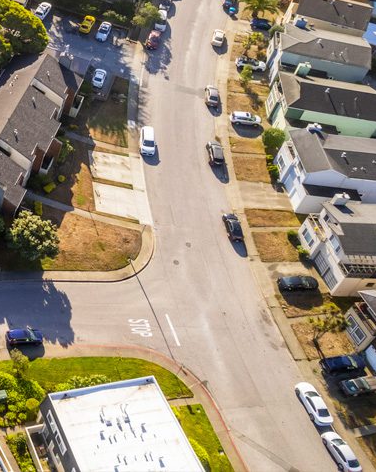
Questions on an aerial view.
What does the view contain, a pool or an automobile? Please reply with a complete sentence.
Of the two, only an automobile appears.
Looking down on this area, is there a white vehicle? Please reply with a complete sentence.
Yes, you can see a white vehicle in this photo.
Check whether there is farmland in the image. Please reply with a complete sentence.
No, the picture contains no farmland.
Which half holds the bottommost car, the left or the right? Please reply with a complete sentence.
The bottommost car is on the right side of the image.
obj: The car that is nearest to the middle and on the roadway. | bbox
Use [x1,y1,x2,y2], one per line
[221,213,246,243]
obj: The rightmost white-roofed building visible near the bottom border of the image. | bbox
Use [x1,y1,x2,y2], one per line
[41,376,198,472]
